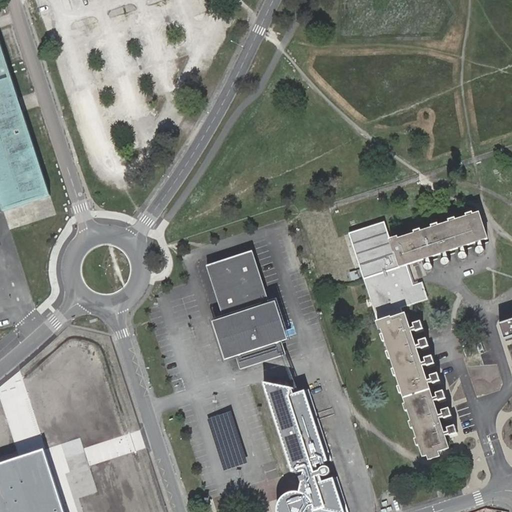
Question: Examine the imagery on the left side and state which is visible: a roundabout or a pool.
roundabout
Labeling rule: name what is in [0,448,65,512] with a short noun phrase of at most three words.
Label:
building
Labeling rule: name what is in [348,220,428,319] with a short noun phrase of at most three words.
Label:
building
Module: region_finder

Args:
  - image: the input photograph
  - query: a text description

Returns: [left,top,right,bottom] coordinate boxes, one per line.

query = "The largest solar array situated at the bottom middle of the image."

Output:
[208,411,247,470]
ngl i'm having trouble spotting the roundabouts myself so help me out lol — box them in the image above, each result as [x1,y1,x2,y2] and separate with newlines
[50,220,152,334]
